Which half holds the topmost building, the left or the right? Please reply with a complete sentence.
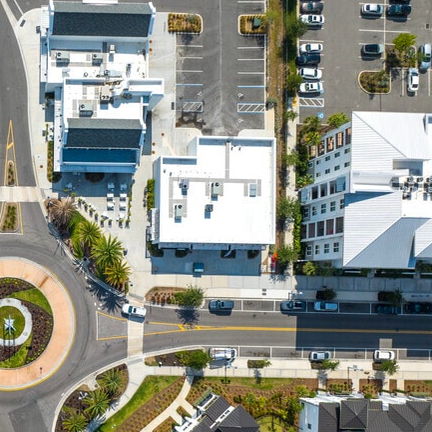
The topmost building appears in the left half of the scene.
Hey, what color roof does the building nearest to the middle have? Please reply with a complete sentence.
The color of the roof on the building nearest to the middle is white.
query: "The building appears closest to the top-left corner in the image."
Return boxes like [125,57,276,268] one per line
[40,0,164,173]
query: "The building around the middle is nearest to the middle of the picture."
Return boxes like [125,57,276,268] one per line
[150,137,276,250]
